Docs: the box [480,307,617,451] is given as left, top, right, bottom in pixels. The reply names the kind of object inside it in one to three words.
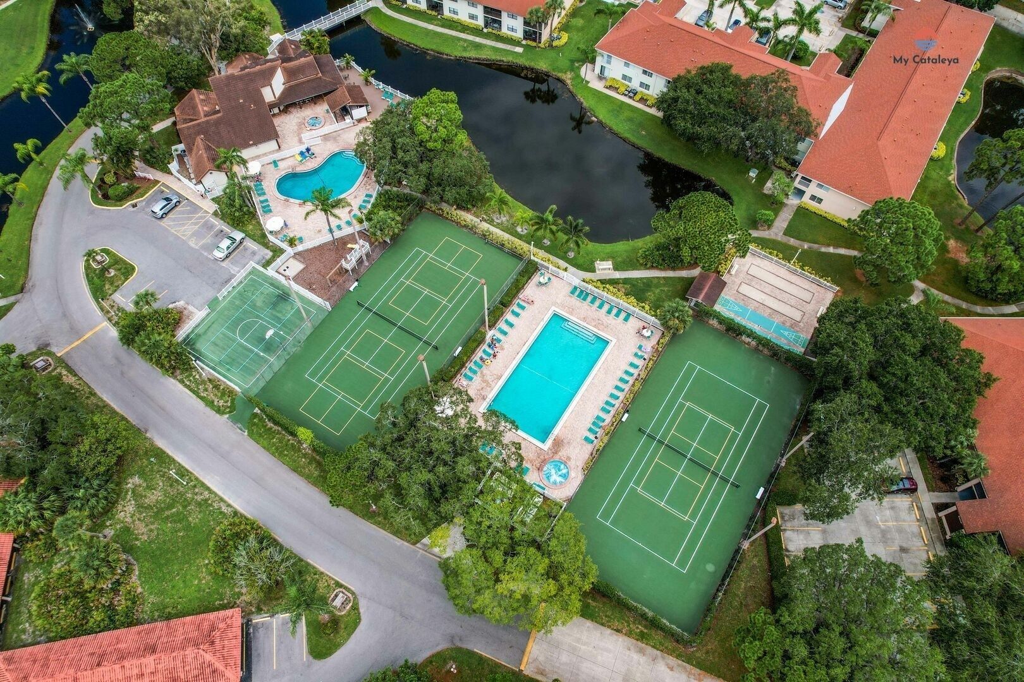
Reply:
swimming pool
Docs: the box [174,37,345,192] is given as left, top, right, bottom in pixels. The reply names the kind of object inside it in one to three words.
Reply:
building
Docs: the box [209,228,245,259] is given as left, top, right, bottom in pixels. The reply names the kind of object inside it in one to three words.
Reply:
car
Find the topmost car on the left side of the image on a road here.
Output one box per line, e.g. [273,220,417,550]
[148,191,179,216]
